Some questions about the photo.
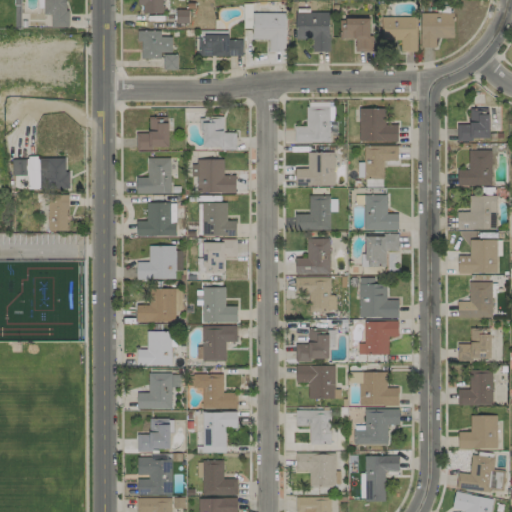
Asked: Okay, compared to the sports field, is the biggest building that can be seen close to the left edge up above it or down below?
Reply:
above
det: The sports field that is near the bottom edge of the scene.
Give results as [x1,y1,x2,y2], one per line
[0,342,86,512]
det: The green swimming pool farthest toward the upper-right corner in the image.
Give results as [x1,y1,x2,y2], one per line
[495,153,508,182]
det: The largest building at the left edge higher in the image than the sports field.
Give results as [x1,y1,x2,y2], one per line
[13,156,70,190]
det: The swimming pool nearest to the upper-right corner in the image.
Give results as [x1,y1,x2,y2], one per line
[394,2,417,16]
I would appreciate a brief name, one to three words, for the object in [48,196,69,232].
building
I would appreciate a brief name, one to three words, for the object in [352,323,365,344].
swimming pool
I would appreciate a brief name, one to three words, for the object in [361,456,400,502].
house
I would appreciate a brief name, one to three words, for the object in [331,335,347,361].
swimming pool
